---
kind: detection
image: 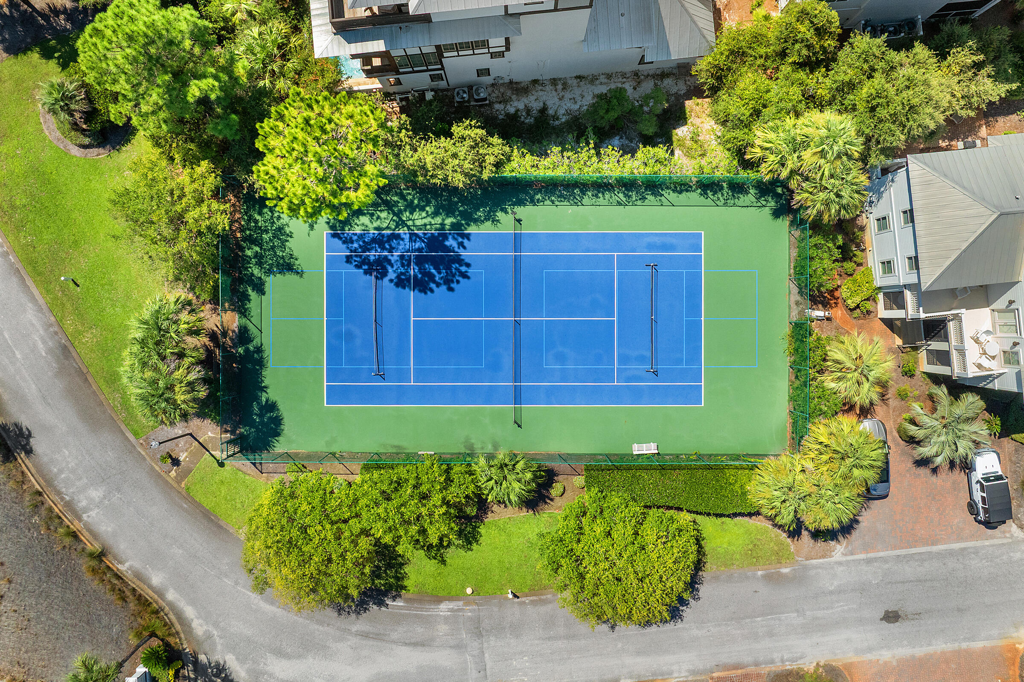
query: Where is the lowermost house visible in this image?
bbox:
[848,132,1024,383]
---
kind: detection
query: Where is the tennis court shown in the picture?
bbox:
[239,186,788,452]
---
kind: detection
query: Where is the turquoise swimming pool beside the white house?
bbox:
[301,9,380,98]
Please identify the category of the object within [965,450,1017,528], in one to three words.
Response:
car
